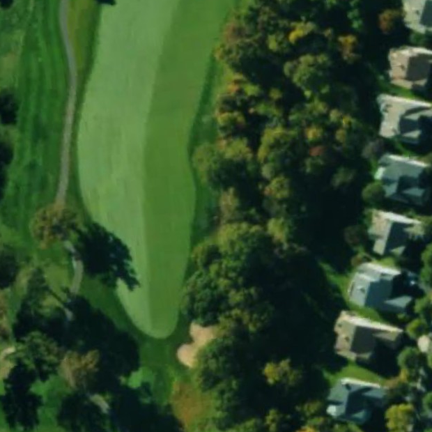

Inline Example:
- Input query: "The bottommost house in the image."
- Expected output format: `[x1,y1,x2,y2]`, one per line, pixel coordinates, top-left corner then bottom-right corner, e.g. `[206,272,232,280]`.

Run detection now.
[320,373,390,420]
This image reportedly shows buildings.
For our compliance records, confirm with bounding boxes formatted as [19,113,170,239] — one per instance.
[320,373,390,420]
[400,0,432,32]
[360,151,432,205]
[343,257,414,313]
[362,205,429,252]
[373,88,432,139]
[335,308,404,356]
[381,42,432,88]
